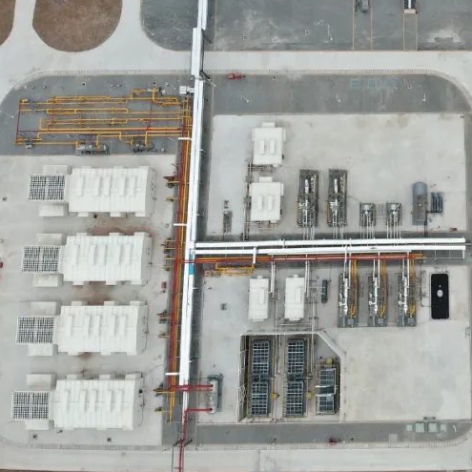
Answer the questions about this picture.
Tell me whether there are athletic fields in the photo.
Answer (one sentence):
No, there isn't any athletic field down there.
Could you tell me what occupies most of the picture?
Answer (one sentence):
What you mostly see from above here is paved ground.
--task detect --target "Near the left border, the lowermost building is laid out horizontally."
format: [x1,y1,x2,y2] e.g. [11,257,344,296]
[10,368,150,436]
